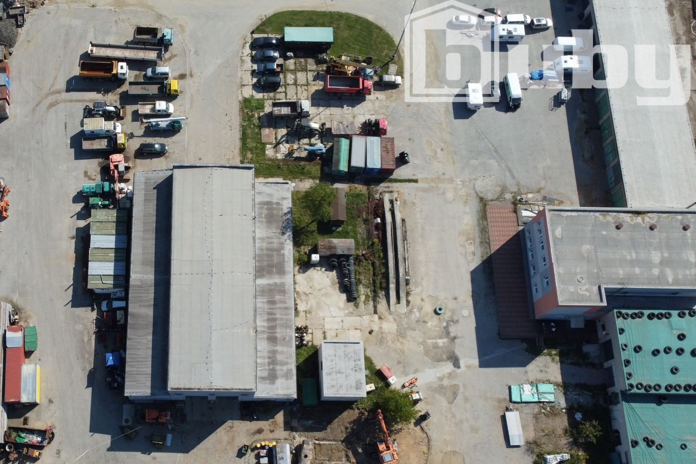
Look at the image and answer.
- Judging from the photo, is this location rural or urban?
urban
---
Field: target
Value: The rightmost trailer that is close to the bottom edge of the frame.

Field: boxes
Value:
[502,402,526,450]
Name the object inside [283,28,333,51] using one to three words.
building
